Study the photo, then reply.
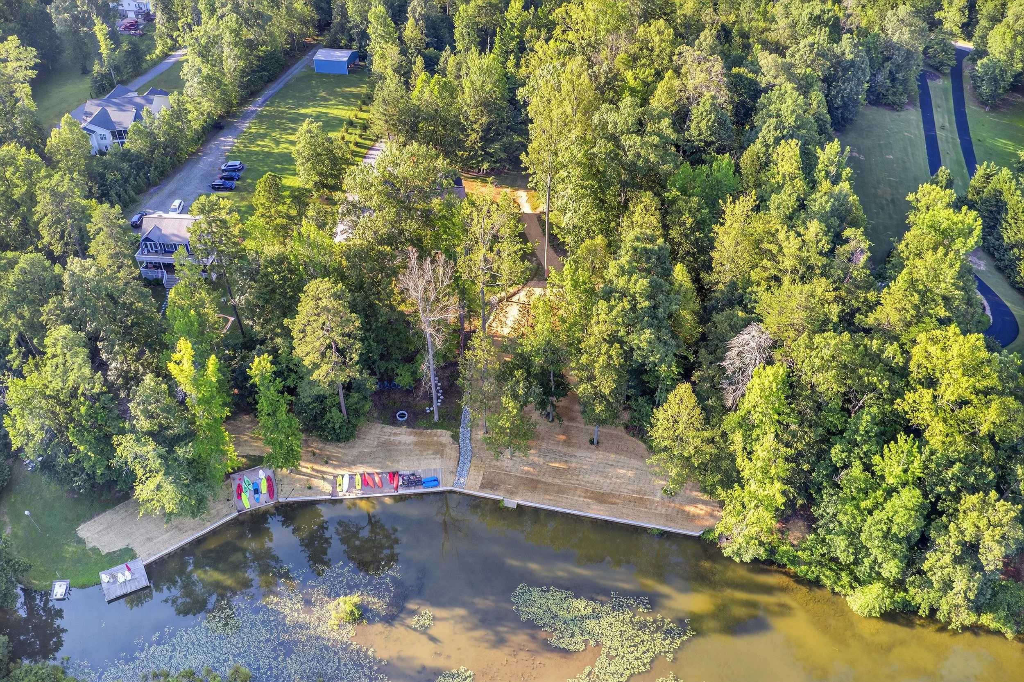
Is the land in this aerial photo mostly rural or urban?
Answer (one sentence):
It looks rural.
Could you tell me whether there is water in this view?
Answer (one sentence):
Yes, water can be seen from above here.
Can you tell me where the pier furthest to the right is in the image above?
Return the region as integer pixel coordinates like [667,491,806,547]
[99,557,153,606]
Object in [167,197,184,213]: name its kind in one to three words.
car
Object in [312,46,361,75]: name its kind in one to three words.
shed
